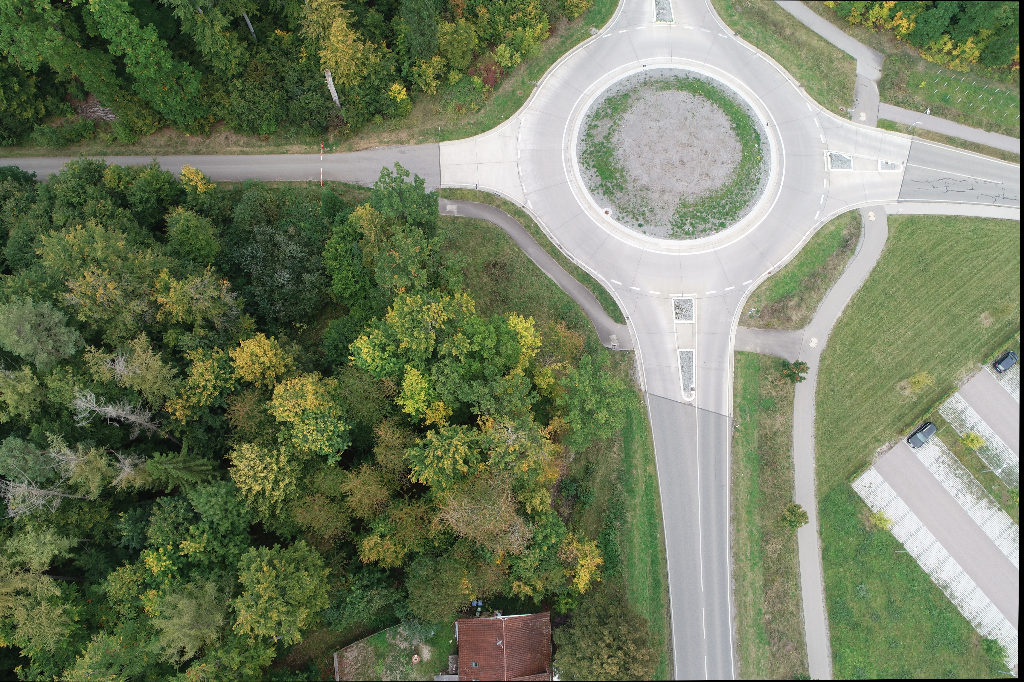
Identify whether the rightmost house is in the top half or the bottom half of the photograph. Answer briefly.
bottom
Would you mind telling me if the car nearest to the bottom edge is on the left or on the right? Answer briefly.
right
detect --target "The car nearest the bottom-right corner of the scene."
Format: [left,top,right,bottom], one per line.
[907,422,938,448]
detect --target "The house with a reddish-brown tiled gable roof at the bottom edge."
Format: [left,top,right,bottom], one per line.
[455,611,554,682]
